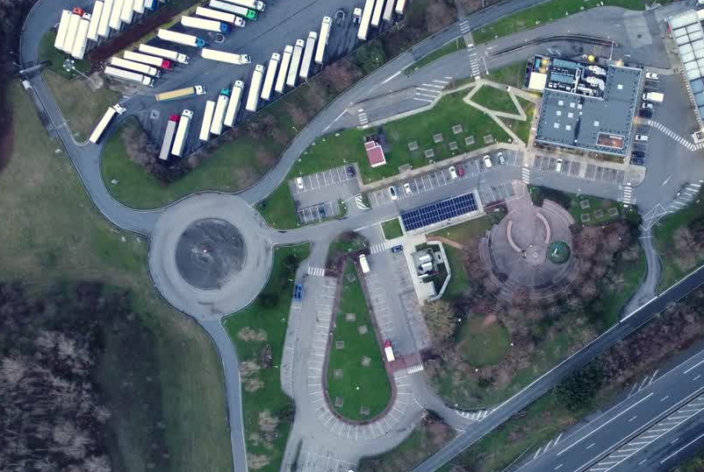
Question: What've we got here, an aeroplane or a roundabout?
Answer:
roundabout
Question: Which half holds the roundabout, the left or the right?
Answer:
left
